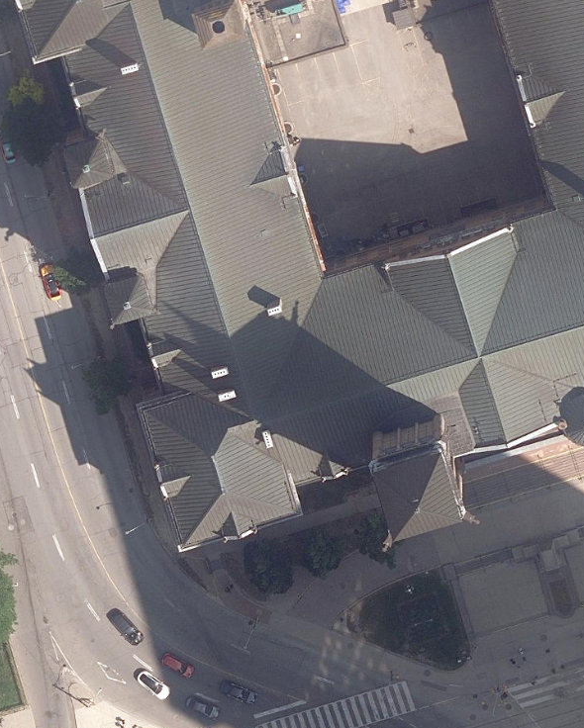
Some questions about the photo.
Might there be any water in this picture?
No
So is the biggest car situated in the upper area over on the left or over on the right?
left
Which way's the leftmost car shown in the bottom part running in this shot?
on a diagonal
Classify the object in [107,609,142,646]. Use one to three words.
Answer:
car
